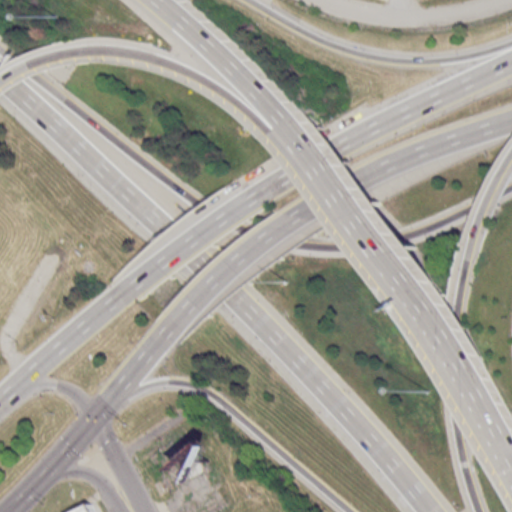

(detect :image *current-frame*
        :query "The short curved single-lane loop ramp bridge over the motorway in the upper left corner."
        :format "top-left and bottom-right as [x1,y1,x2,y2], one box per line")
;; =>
[0,48,47,96]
